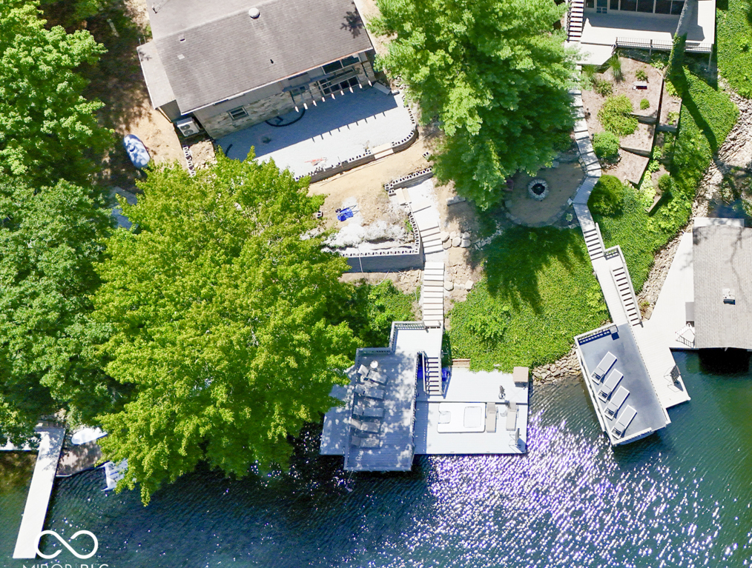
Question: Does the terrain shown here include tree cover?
Yes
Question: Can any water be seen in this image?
Yes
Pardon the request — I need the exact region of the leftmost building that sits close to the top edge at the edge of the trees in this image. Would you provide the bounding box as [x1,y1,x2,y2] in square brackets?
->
[138,0,380,135]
